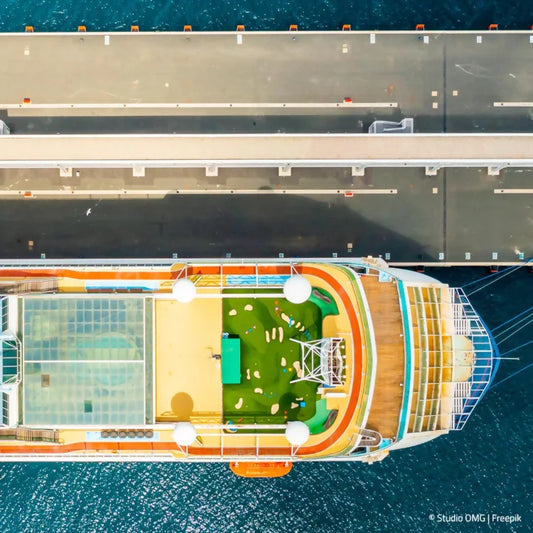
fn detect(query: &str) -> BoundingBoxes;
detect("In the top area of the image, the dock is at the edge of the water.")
[0,24,533,273]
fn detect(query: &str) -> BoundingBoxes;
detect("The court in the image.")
[155,289,223,423]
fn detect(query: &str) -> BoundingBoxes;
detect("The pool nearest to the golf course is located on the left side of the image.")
[70,336,142,385]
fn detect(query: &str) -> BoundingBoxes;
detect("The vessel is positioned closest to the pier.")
[0,252,521,473]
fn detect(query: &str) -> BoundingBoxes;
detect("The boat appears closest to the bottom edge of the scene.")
[228,461,293,479]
